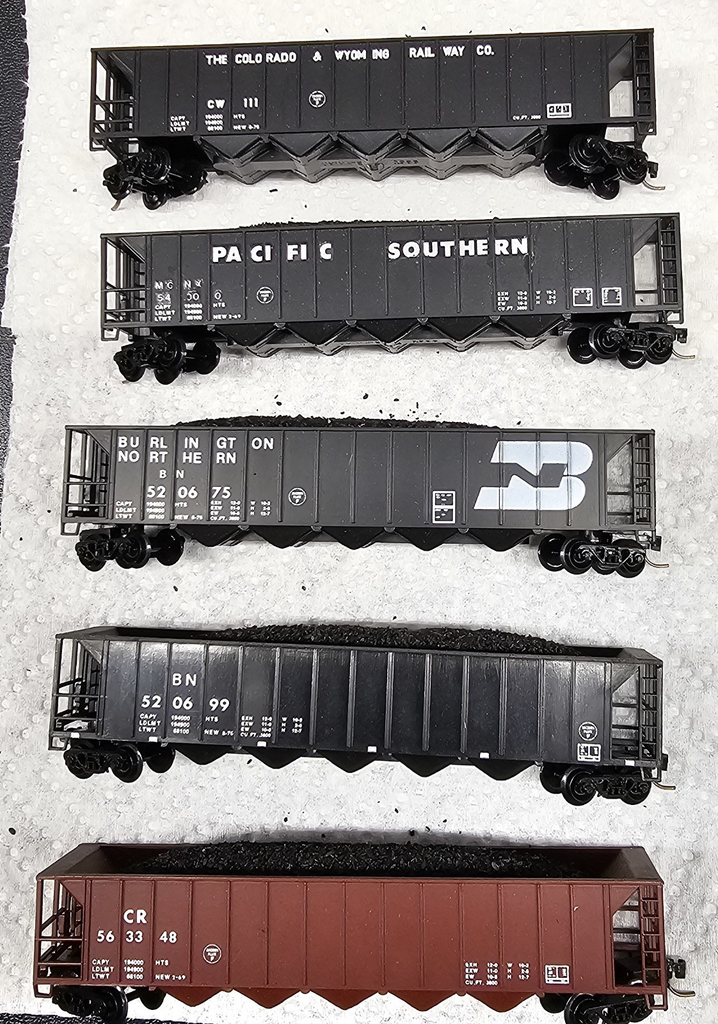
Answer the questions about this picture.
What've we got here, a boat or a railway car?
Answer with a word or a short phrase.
railway car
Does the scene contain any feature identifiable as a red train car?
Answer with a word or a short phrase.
Yes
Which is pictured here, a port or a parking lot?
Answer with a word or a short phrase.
parking lot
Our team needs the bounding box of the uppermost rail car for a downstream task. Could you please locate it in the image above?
[90,30,669,211]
